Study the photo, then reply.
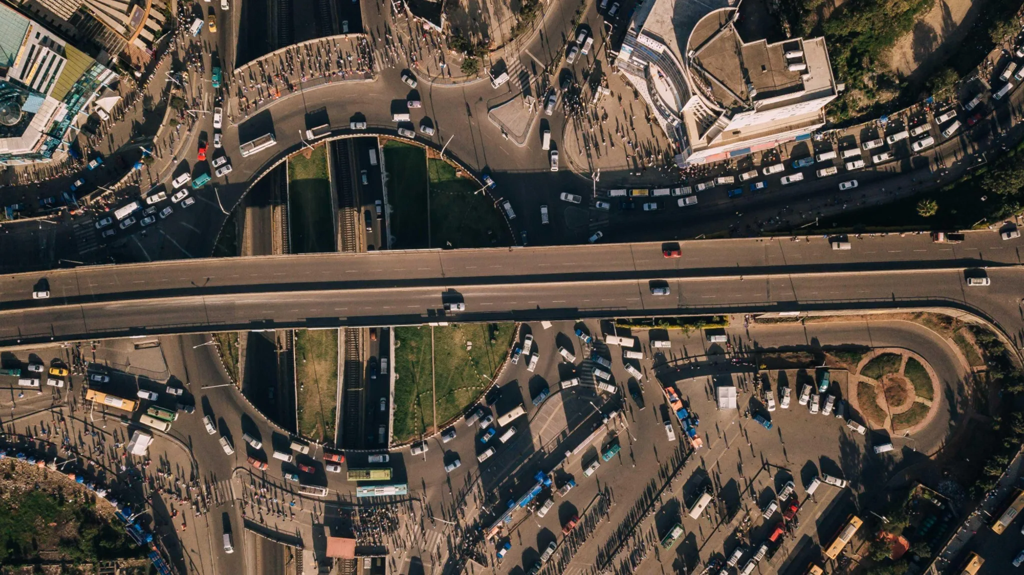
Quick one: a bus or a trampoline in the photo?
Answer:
bus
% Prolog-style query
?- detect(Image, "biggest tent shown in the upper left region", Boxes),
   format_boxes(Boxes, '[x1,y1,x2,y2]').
[96,90,124,116]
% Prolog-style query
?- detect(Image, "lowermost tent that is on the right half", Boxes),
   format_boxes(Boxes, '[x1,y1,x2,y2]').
[714,385,736,408]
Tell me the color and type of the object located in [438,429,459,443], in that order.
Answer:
gray car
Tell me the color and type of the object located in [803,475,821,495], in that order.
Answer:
white vehicle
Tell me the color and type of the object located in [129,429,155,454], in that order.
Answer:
white tent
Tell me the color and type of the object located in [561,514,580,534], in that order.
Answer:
red vehicle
